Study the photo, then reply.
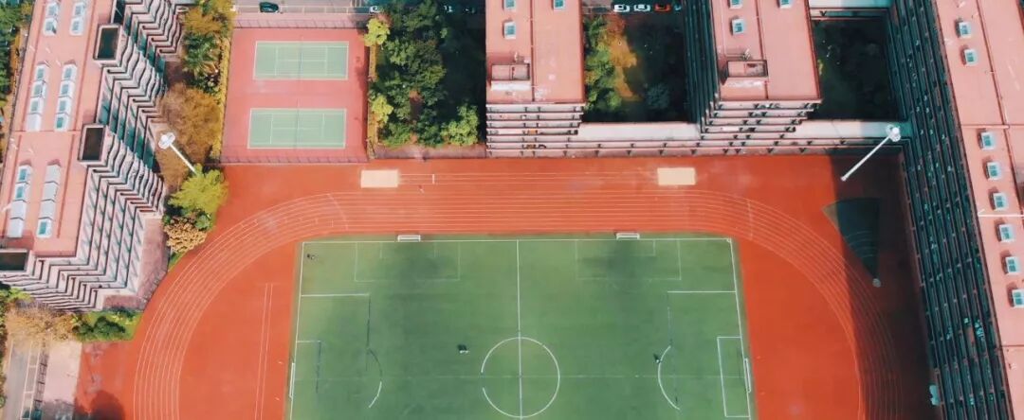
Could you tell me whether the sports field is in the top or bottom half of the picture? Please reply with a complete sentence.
The bottom half of the photo is where the sports field is.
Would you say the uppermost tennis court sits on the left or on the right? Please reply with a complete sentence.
You can find the uppermost tennis court on the left side of the picture.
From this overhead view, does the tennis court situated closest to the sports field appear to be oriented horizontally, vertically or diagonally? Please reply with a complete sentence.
The tennis court situated closest to the sports field has been laid out horizontally relative to the frame.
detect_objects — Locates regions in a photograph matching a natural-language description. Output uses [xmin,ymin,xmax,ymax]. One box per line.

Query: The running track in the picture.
[132,173,901,420]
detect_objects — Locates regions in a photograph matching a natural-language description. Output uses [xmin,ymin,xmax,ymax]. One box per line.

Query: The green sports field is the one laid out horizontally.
[282,233,758,420]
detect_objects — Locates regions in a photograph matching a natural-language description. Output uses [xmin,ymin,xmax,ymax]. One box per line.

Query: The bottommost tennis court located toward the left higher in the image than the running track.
[246,104,347,151]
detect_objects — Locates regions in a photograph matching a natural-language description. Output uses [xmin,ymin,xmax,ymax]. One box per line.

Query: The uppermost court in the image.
[251,41,349,79]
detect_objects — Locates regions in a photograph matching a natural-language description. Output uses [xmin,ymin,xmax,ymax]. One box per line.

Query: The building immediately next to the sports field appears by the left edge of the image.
[0,0,188,315]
